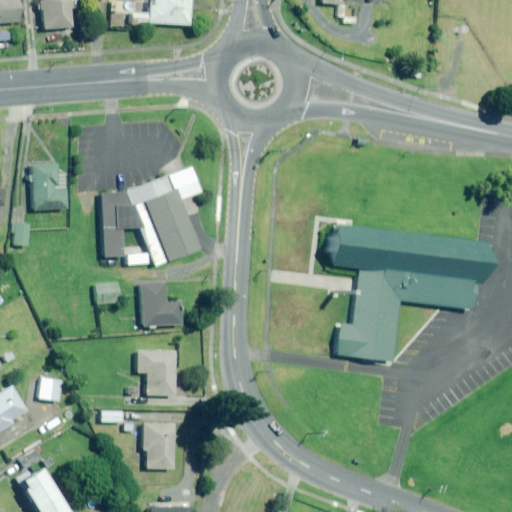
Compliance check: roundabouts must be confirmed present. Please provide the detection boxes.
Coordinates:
[206,34,306,132]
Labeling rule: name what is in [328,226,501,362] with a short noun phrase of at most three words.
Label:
church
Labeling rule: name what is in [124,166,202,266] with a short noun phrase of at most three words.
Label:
building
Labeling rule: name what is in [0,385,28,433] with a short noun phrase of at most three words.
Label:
house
